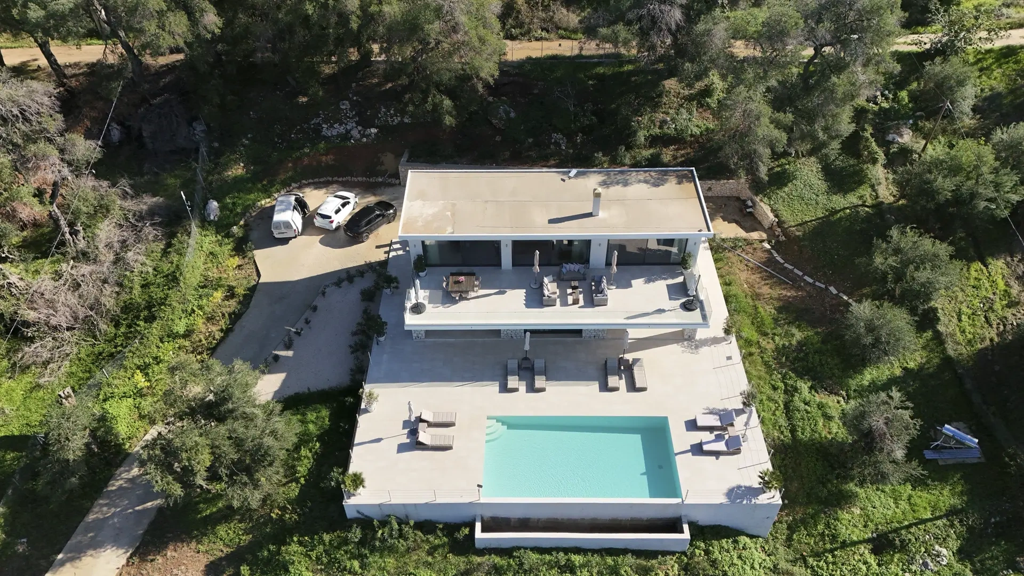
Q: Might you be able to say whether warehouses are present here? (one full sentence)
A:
No, the frame has no warehouse in it.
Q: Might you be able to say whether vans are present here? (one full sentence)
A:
Yes, you can see a van in this photo.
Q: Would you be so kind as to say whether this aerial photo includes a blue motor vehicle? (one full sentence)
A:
No, there's no blue motor vehicle here.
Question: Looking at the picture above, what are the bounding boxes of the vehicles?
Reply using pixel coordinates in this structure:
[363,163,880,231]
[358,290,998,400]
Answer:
[269,191,301,234]
[339,199,398,242]
[309,191,359,231]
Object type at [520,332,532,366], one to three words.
umbrella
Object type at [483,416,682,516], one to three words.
swimming pool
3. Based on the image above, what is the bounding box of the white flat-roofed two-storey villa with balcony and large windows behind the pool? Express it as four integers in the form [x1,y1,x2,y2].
[398,167,714,342]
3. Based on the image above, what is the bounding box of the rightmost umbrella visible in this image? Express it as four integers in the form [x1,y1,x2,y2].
[738,407,757,443]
